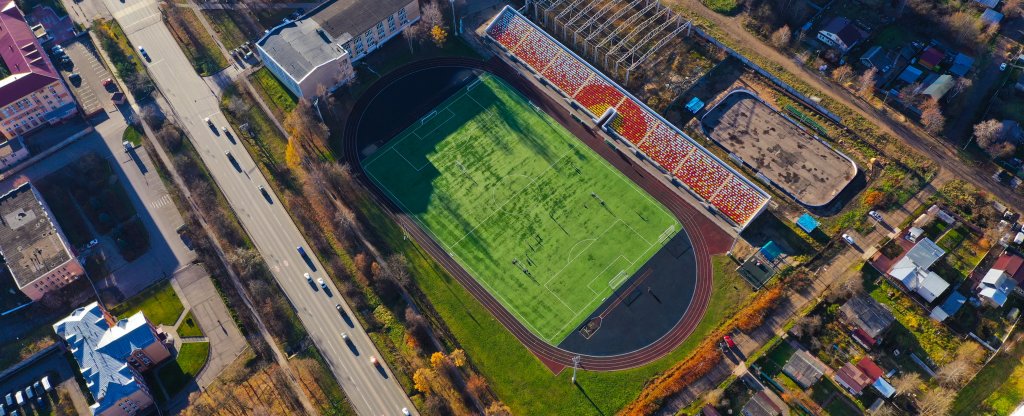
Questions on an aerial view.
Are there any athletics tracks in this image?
Yes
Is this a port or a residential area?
residential area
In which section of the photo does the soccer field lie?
center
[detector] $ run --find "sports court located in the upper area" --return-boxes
[699,83,860,207]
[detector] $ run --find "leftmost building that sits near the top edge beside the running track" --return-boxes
[255,0,425,98]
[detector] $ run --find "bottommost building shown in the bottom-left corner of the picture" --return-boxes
[53,299,181,416]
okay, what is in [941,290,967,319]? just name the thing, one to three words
house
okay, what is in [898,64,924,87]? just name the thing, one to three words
shed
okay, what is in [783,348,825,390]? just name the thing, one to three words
house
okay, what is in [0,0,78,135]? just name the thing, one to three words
building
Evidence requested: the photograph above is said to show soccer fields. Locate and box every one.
[362,71,682,344]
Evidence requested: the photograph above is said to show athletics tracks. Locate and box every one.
[344,50,734,376]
